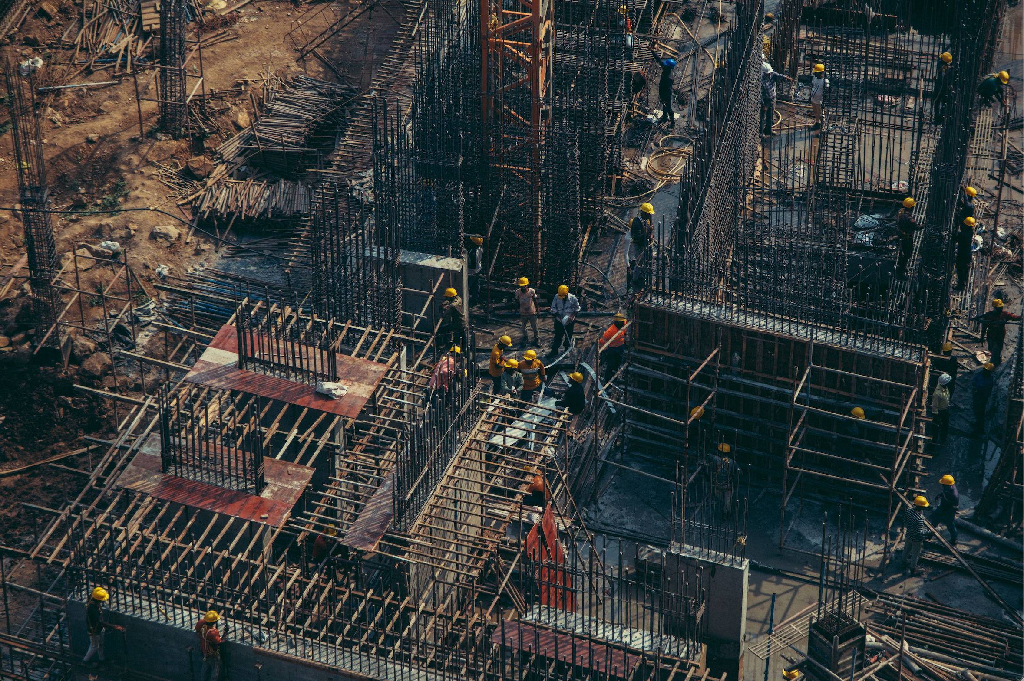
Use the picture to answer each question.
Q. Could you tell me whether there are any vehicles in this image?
No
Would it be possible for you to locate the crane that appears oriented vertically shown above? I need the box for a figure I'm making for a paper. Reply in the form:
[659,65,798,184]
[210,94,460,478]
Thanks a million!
[482,0,561,264]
